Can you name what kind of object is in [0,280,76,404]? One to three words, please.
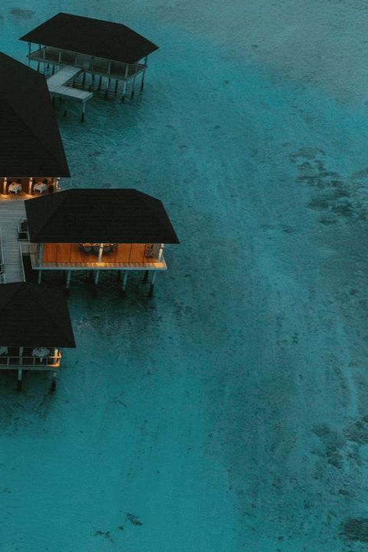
building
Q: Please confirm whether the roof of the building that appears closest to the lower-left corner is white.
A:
No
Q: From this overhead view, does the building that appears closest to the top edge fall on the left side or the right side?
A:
left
